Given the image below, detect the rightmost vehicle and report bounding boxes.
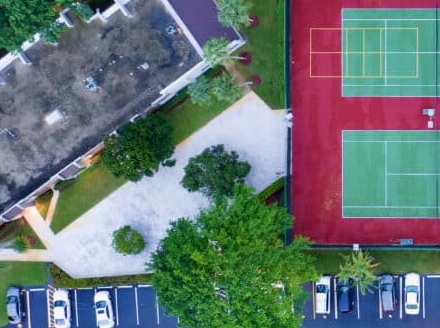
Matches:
[403,273,421,314]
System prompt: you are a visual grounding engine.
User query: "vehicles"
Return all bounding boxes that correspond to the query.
[336,277,353,316]
[51,289,72,328]
[93,290,115,328]
[314,275,332,316]
[379,275,396,312]
[3,286,25,325]
[403,273,421,314]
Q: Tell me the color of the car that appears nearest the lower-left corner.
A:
blue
